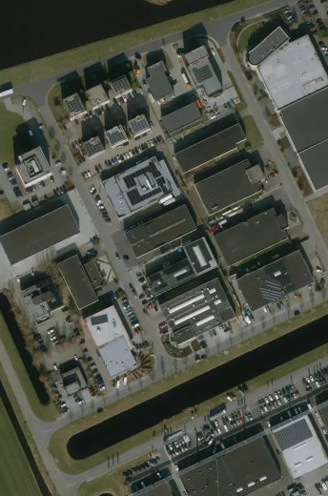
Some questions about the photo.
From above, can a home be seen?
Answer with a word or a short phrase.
Yes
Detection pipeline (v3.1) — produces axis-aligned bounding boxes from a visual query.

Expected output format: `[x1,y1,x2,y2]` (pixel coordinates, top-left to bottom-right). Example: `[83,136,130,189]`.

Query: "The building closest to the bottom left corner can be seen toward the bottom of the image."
[62,367,87,396]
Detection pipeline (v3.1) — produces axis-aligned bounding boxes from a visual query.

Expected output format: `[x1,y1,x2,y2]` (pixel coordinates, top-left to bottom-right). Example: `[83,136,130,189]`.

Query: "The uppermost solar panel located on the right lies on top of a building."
[193,63,212,82]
